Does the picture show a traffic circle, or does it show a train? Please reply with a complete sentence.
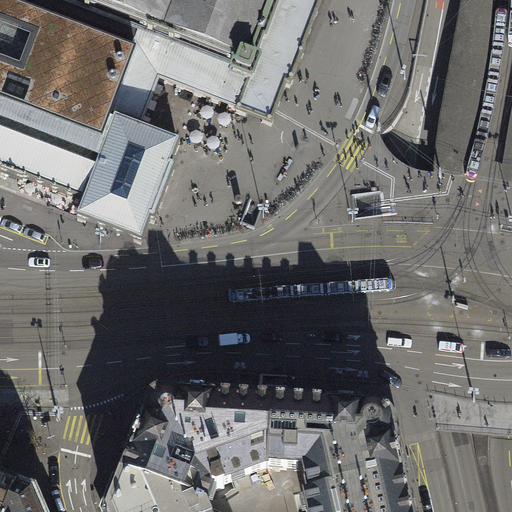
The one in the frame is a train.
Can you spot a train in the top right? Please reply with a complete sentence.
Yes, in the top right there is a train.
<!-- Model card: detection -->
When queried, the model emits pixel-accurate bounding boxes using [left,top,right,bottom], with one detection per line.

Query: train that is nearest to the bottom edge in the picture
[227,280,396,304]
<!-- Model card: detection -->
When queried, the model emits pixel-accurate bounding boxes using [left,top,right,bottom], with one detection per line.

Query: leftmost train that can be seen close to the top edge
[465,9,506,186]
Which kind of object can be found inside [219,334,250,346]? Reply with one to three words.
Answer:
vehicle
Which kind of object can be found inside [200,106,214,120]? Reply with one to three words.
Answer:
umbrella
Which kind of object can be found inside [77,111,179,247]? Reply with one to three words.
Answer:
building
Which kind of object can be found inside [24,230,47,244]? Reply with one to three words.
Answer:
car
